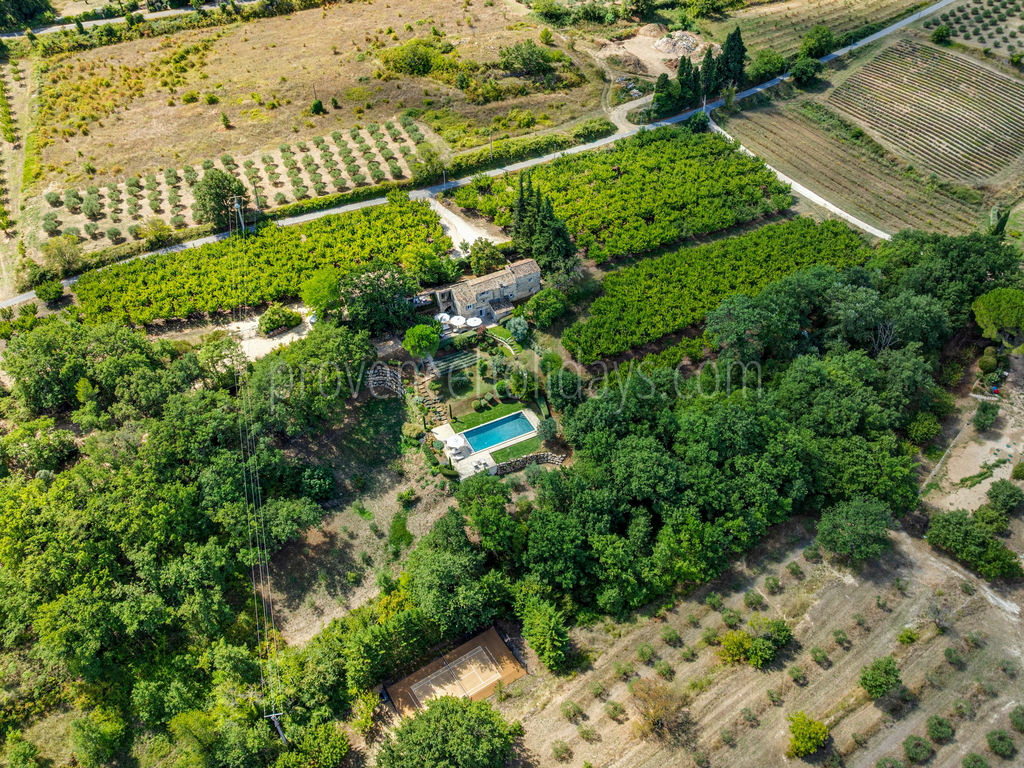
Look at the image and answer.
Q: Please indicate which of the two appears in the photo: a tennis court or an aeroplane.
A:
tennis court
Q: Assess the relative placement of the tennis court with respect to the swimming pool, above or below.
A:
below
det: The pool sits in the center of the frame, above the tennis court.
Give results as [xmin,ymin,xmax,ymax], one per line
[456,410,537,455]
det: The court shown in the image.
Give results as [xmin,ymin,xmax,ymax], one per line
[387,627,526,739]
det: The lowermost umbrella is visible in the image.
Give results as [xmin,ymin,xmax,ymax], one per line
[447,436,464,453]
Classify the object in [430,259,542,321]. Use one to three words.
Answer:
house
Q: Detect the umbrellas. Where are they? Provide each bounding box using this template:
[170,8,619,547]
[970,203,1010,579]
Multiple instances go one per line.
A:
[467,318,482,332]
[447,436,464,453]
[451,317,466,331]
[435,314,450,323]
